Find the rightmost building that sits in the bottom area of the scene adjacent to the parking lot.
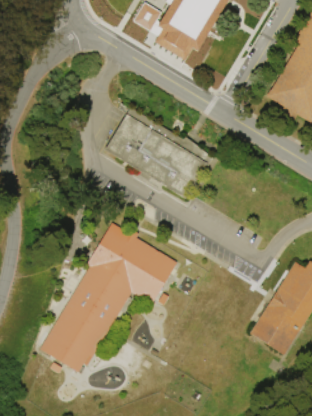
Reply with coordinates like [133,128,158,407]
[250,262,312,355]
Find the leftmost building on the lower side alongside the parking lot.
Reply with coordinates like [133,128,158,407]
[39,222,176,372]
